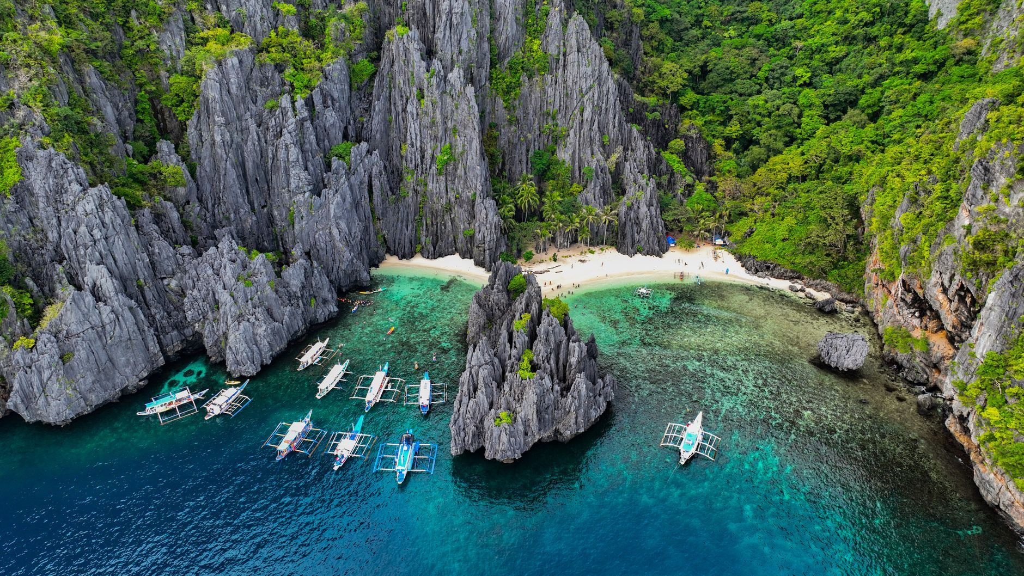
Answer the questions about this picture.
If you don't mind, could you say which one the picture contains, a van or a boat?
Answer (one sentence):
I can see a boat in this picture.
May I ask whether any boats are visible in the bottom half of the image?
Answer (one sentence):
Yes, you'll find a boat in the bottom half of the image.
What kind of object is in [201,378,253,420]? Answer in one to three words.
boat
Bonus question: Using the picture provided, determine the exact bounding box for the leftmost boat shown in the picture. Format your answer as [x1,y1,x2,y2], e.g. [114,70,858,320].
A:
[136,385,209,424]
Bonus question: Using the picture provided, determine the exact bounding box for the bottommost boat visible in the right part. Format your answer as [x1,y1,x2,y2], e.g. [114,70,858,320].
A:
[660,411,721,468]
